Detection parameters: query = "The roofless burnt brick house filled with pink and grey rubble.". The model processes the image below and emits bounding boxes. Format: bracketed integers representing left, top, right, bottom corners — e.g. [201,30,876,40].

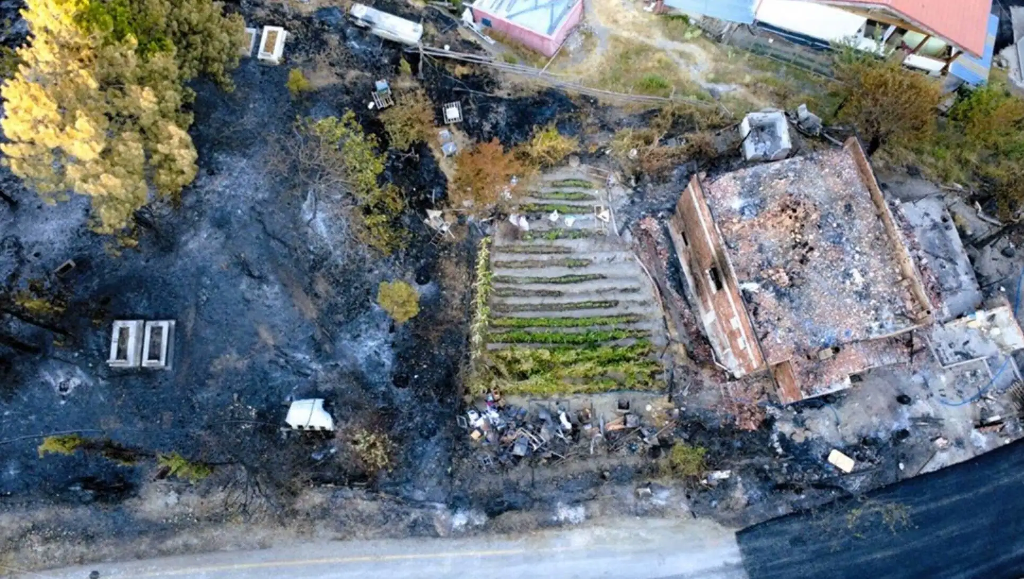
[669,140,934,406]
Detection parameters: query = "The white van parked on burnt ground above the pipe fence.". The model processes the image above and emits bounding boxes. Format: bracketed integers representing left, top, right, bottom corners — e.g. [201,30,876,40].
[344,0,429,48]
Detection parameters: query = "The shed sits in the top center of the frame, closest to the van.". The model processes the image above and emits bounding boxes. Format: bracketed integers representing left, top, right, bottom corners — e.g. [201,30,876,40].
[466,0,589,61]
